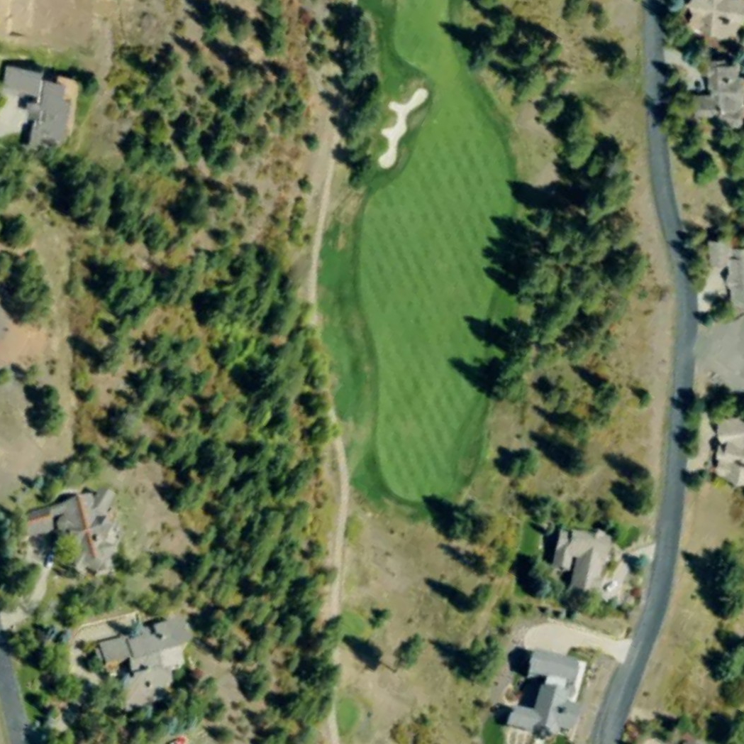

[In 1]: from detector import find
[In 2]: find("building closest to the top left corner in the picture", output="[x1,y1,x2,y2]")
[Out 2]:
[2,62,78,151]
